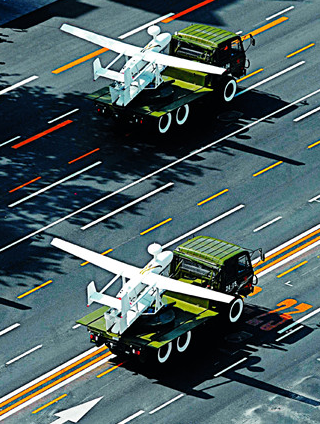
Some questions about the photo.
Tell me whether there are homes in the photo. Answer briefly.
No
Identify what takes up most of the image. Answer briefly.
paved ground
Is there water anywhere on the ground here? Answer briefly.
No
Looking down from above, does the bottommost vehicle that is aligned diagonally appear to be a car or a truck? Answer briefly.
truck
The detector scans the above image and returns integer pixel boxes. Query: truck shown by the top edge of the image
[87,20,254,133]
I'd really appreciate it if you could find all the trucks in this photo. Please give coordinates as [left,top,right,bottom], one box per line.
[87,20,254,133]
[77,231,264,363]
